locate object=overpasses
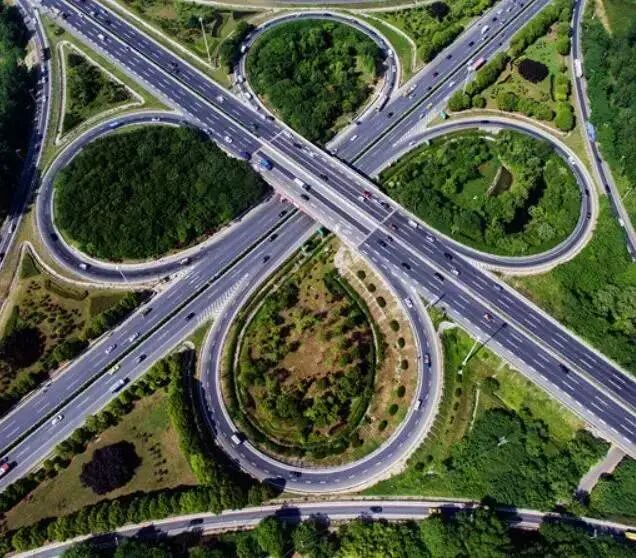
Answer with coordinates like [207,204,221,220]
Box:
[242,126,401,249]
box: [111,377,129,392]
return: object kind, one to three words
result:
vehicle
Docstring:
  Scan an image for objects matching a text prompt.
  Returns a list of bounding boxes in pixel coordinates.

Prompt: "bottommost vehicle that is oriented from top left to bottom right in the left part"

[228,432,243,449]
